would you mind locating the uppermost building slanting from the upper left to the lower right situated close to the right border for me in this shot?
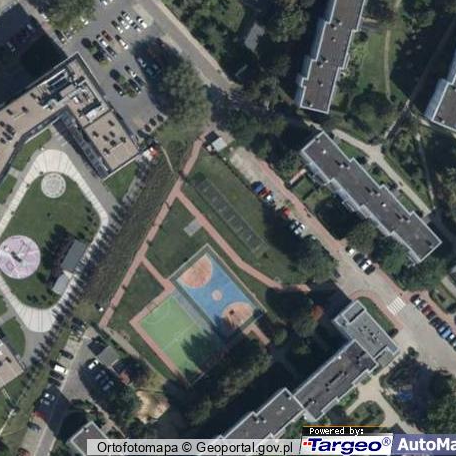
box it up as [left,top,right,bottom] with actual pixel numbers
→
[294,130,442,262]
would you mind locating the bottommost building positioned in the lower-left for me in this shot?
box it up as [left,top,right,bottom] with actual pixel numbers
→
[63,418,124,456]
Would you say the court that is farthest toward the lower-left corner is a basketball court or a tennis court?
basketball court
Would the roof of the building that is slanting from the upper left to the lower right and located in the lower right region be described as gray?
Yes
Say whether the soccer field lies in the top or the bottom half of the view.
bottom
